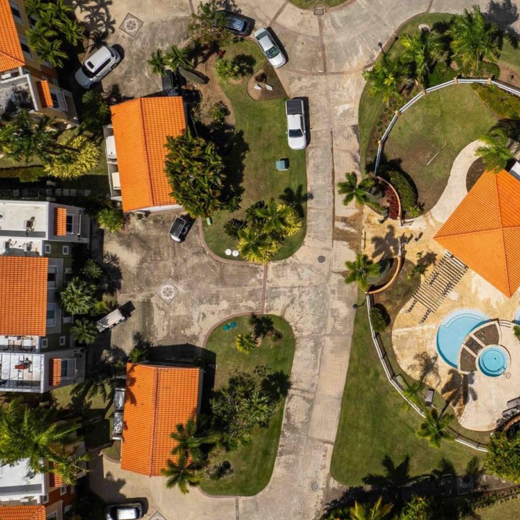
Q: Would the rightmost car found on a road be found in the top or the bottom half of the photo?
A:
top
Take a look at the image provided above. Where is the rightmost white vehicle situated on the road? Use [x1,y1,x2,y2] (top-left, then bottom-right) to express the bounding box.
[254,28,287,70]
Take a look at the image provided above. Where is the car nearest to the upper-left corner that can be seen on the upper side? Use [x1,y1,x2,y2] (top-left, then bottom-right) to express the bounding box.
[78,47,121,88]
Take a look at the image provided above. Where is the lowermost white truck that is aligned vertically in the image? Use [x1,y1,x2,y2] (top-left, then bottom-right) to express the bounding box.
[286,99,308,150]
